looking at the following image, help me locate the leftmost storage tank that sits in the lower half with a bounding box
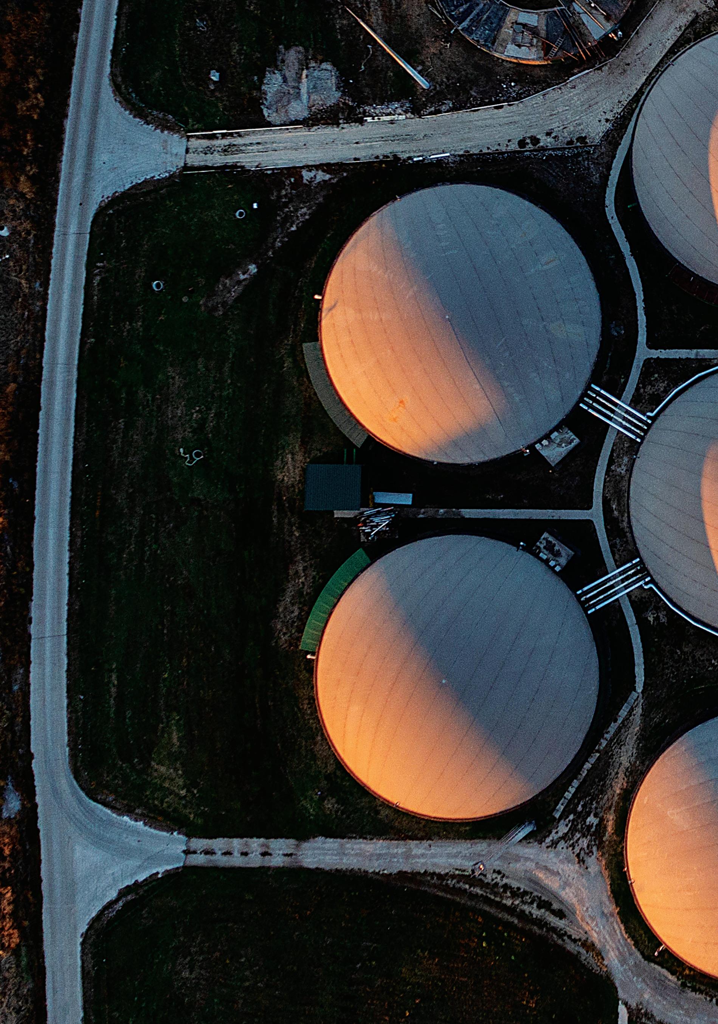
[300,532,611,821]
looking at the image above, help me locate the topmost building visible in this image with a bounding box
[538,426,586,466]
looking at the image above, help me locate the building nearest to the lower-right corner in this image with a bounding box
[533,532,580,570]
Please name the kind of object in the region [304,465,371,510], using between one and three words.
shed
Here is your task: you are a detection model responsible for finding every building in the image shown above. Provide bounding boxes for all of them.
[538,426,586,466]
[533,532,580,570]
[304,465,371,510]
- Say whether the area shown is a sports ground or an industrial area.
industrial area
